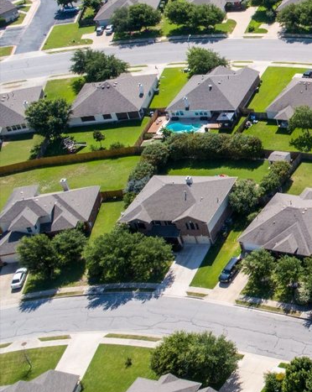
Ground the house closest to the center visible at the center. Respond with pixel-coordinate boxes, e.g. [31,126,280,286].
[119,166,237,245]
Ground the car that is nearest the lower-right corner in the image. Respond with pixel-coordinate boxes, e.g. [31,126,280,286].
[220,259,238,281]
